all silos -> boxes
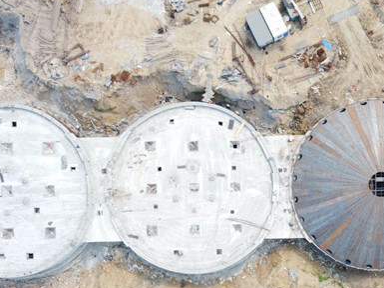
[104,101,276,274]
[0,105,93,278]
[290,98,384,272]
